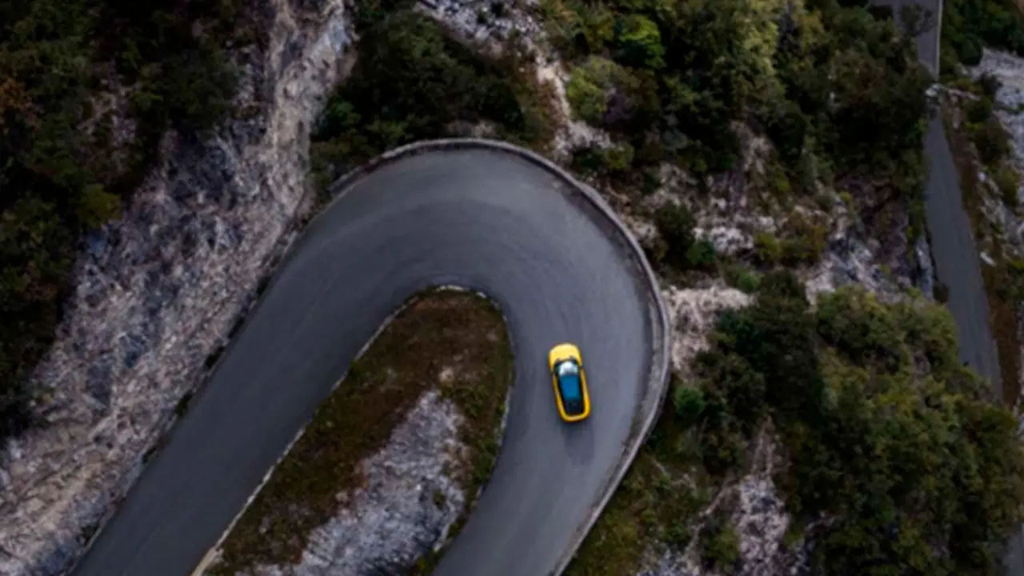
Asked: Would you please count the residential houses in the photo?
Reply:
0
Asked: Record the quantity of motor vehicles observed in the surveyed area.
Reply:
1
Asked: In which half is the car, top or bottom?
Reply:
bottom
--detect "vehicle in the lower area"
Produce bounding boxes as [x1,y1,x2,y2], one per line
[548,341,590,423]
